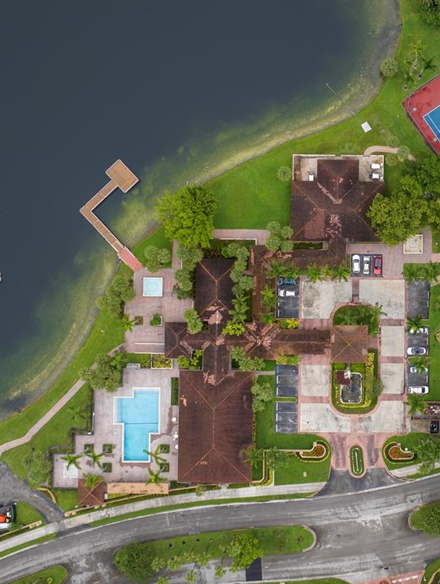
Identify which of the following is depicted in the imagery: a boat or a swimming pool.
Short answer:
swimming pool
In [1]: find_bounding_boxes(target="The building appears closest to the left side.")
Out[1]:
[77,479,105,505]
